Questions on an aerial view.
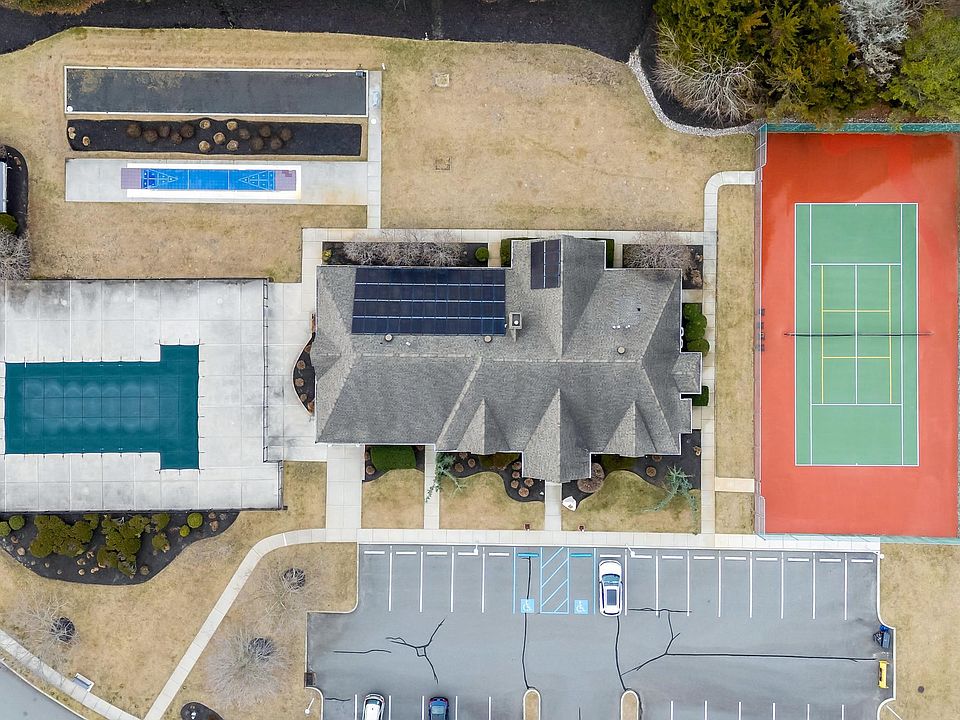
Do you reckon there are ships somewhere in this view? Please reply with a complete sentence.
No, no ship is visible in the view.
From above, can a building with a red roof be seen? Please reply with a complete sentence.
No, there appears to be no building with a red roof in this shot.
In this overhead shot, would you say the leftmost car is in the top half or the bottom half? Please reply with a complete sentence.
It is in the bottom half that the leftmost car appears.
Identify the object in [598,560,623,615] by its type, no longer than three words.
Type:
car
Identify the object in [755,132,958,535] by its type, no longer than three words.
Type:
tennis court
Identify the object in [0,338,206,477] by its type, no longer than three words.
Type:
swimming pool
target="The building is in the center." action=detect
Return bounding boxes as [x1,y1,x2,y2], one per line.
[311,233,703,484]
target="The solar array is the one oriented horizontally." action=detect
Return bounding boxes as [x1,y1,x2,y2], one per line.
[351,268,506,335]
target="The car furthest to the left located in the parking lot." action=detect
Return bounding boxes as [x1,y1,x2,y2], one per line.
[362,689,385,720]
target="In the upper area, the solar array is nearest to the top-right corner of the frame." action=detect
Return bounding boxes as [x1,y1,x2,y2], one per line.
[532,239,561,290]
